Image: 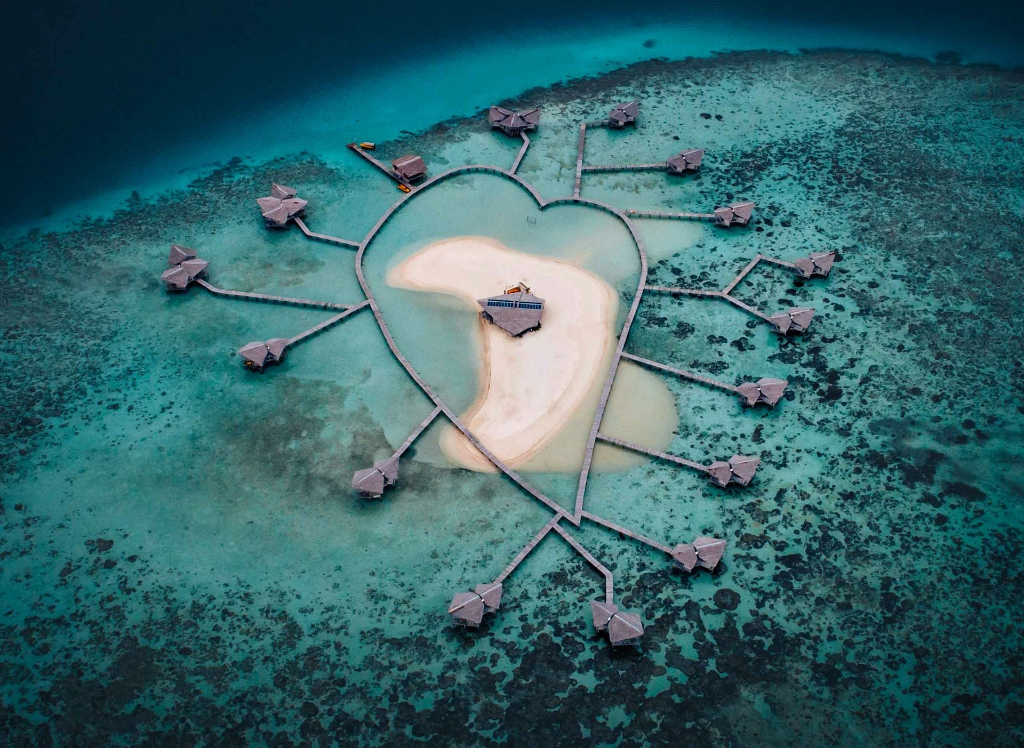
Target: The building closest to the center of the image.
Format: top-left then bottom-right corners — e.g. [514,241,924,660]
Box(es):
[478,293,545,338]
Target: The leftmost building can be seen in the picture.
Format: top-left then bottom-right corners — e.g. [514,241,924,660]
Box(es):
[161,245,215,300]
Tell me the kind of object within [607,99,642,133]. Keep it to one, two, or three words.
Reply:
house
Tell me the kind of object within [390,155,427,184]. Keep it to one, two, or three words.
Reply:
building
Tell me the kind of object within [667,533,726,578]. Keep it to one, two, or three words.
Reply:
house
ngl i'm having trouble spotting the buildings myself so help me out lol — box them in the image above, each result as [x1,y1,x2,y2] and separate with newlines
[729,376,788,416]
[447,583,504,634]
[478,293,545,338]
[239,338,292,378]
[607,99,642,133]
[488,106,542,143]
[703,453,760,495]
[587,602,643,653]
[257,184,311,235]
[390,155,427,184]
[352,458,404,507]
[710,203,755,233]
[664,150,704,180]
[667,533,726,578]
[787,252,835,287]
[161,245,215,300]
[763,306,815,344]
